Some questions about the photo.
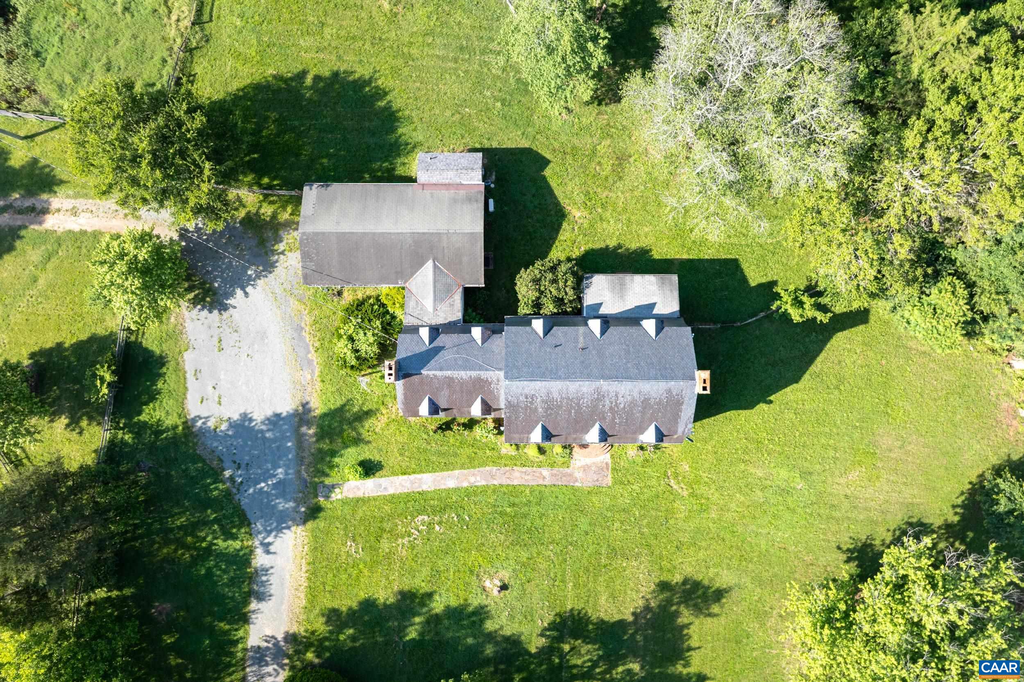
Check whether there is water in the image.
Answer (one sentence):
No, the picture contains no water.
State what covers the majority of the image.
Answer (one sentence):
Most of the picture is covered by grass.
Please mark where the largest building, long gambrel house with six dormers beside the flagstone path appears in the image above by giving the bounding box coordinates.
[504,315,710,446]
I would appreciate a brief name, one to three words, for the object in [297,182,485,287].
barn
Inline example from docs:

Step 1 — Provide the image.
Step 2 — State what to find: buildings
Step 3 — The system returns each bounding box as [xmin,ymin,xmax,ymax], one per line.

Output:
[504,315,710,446]
[297,182,485,287]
